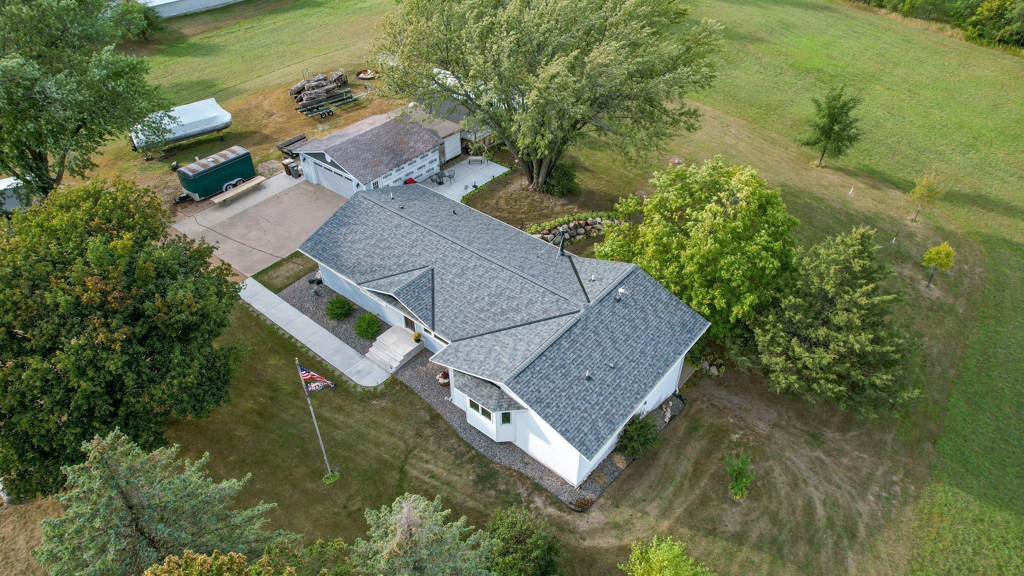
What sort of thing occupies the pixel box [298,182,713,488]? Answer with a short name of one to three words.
house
